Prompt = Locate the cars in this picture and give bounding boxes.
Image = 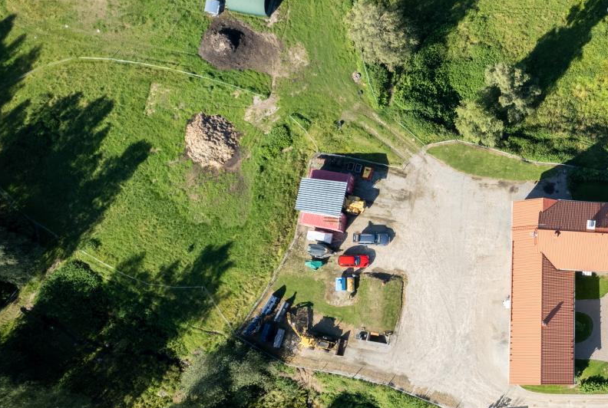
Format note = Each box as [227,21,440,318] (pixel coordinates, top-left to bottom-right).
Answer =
[350,230,392,247]
[338,253,372,269]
